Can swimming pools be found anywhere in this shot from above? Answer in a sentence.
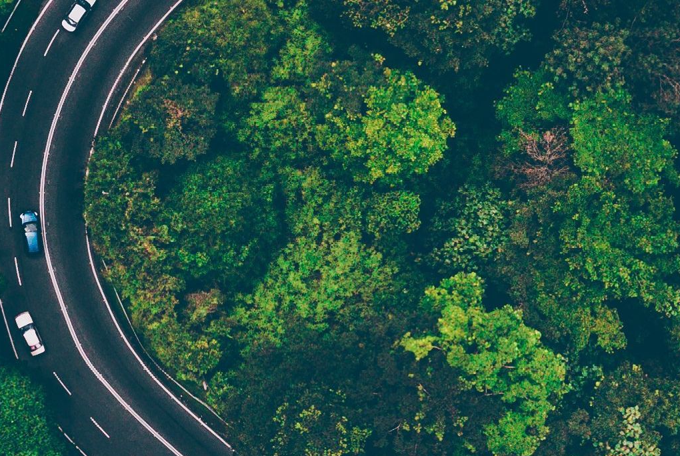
No, there is no swimming pool in the image.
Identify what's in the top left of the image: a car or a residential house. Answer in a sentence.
Looking in the top left of the image, you will find a car.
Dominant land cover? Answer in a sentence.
What you mostly see from above here is trees.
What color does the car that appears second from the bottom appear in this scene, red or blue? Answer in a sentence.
The color of the car that appears second from the bottom is blue.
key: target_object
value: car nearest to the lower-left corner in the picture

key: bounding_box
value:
[15,312,46,356]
